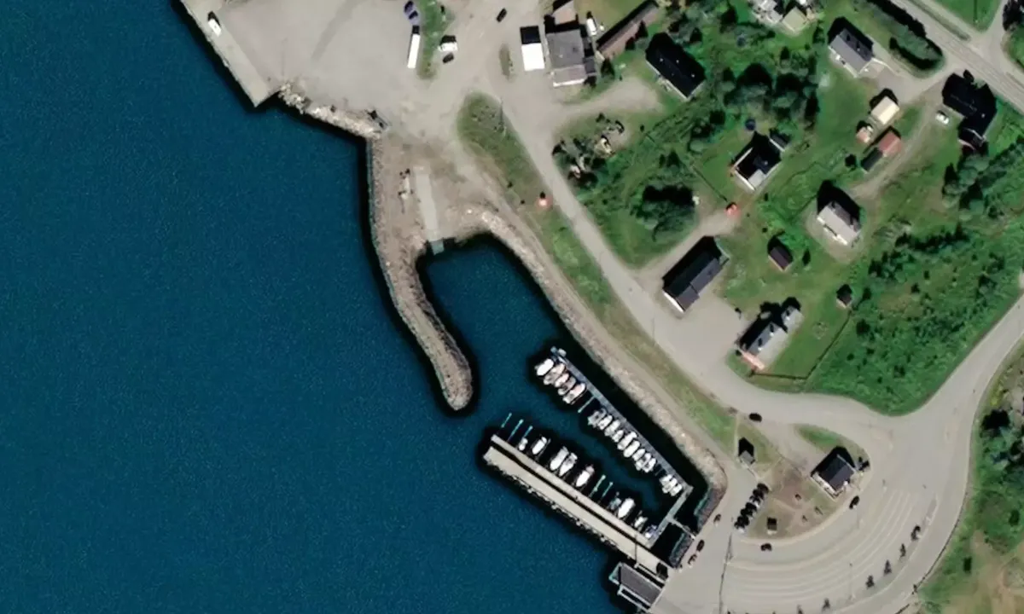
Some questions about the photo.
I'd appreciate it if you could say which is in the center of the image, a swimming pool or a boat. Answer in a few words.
boat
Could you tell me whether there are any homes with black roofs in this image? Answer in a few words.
Yes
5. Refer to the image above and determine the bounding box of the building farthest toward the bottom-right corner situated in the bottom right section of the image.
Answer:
[818,454,856,492]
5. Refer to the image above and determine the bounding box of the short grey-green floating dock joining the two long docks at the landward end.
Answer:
[650,488,690,545]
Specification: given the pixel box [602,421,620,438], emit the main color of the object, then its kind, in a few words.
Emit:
white boat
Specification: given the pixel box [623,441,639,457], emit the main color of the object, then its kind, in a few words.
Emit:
white boat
